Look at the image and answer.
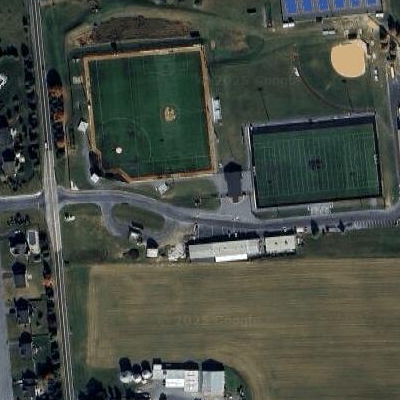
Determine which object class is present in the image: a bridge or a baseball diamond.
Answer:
baseball diamond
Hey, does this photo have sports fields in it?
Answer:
Yes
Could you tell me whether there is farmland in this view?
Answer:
Yes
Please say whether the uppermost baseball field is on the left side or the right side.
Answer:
right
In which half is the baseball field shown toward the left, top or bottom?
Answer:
top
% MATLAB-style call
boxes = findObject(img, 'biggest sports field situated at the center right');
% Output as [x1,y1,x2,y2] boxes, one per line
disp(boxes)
[248,112,382,211]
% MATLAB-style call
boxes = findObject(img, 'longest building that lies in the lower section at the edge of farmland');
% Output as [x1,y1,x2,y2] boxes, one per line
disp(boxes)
[187,239,260,259]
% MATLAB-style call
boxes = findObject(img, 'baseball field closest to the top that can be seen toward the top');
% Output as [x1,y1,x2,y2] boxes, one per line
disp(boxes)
[294,40,374,113]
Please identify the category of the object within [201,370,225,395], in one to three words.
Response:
barn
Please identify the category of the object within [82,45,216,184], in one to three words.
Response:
baseball field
